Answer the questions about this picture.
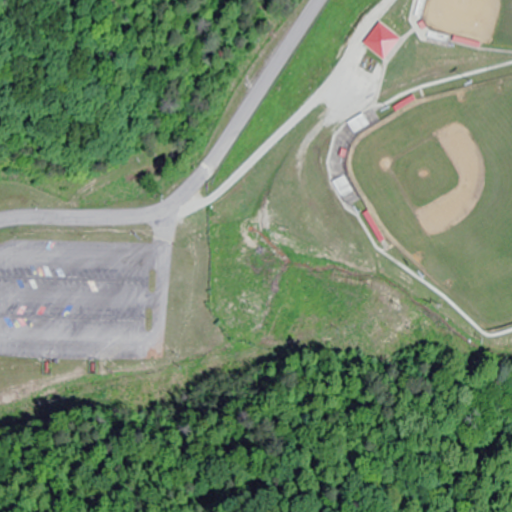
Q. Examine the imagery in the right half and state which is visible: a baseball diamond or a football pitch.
baseball diamond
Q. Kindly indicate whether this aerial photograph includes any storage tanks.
No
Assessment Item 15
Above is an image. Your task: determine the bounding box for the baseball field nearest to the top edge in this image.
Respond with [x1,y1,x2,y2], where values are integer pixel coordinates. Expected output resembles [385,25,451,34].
[423,0,512,48]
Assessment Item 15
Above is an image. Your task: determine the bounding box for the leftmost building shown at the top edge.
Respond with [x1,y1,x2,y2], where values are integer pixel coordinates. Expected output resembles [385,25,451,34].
[362,20,400,60]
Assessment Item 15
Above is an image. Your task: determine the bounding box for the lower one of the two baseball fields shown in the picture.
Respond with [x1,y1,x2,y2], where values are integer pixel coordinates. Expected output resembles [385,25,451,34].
[347,76,512,330]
